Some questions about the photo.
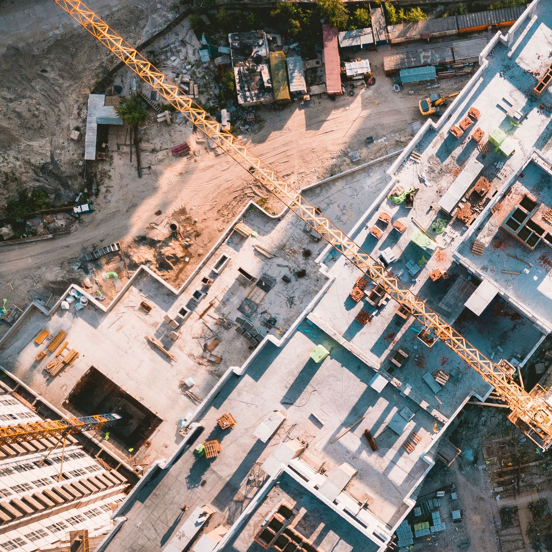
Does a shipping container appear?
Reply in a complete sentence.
Yes, I can see a shipping container in this picture.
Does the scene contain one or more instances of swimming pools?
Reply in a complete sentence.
No, there isn't any swimming pool down there.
